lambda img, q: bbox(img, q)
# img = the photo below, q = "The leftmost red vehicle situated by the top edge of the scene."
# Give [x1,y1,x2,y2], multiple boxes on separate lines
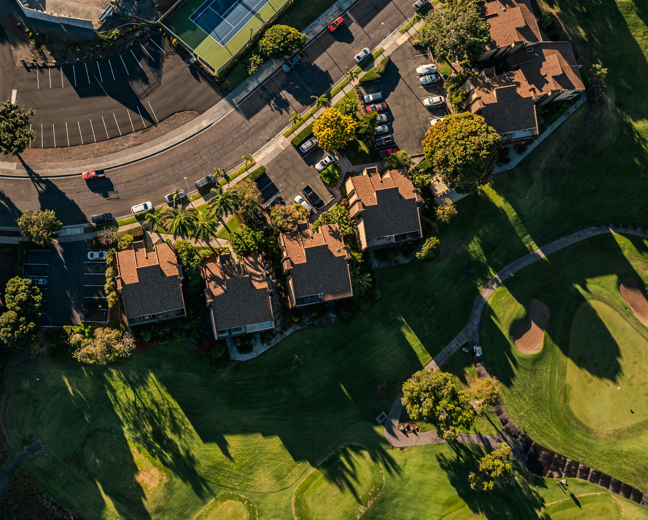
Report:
[326,15,346,33]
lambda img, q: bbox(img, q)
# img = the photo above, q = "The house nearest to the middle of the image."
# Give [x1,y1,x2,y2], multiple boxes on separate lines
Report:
[278,218,355,306]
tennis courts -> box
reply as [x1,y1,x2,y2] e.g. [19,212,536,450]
[189,0,268,46]
[169,0,283,69]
